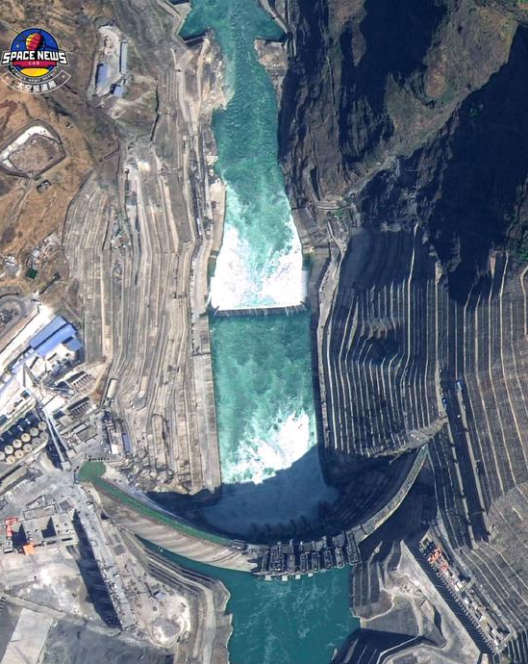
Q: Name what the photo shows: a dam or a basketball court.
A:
dam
